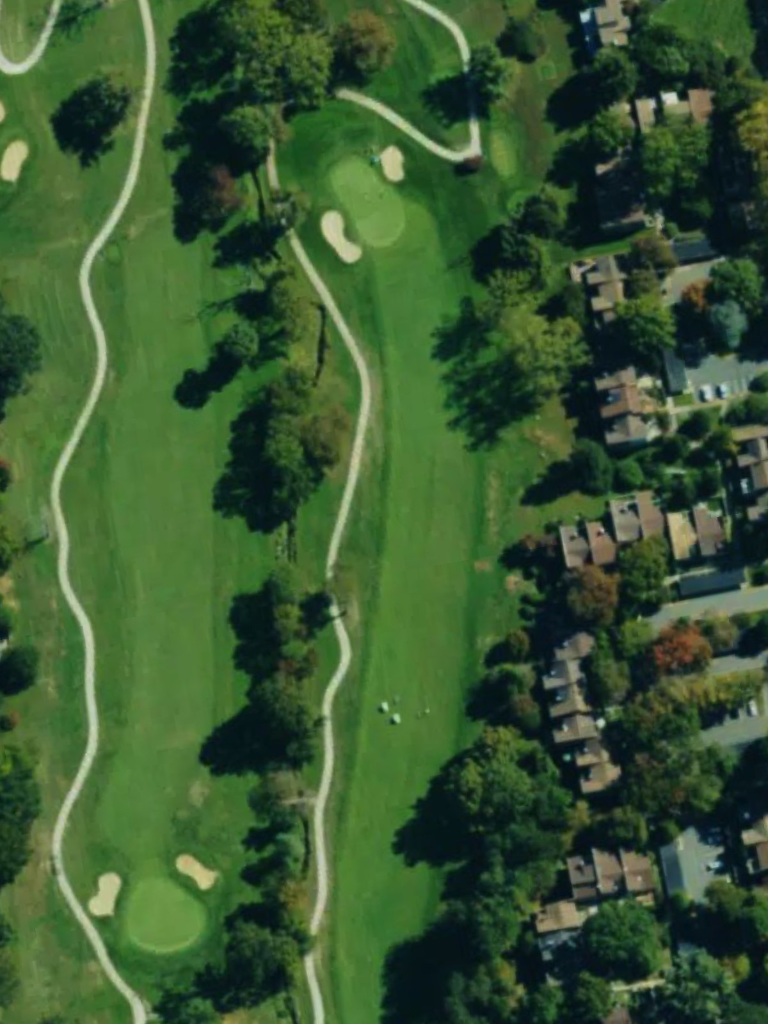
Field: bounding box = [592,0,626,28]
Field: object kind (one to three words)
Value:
house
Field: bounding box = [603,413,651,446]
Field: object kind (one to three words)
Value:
house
